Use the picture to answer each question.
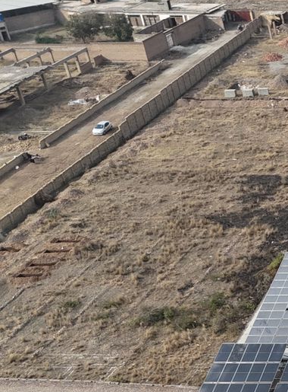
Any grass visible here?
Yes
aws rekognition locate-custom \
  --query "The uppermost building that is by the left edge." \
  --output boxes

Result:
[0,0,65,43]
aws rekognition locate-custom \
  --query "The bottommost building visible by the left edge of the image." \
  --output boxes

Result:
[0,48,92,120]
